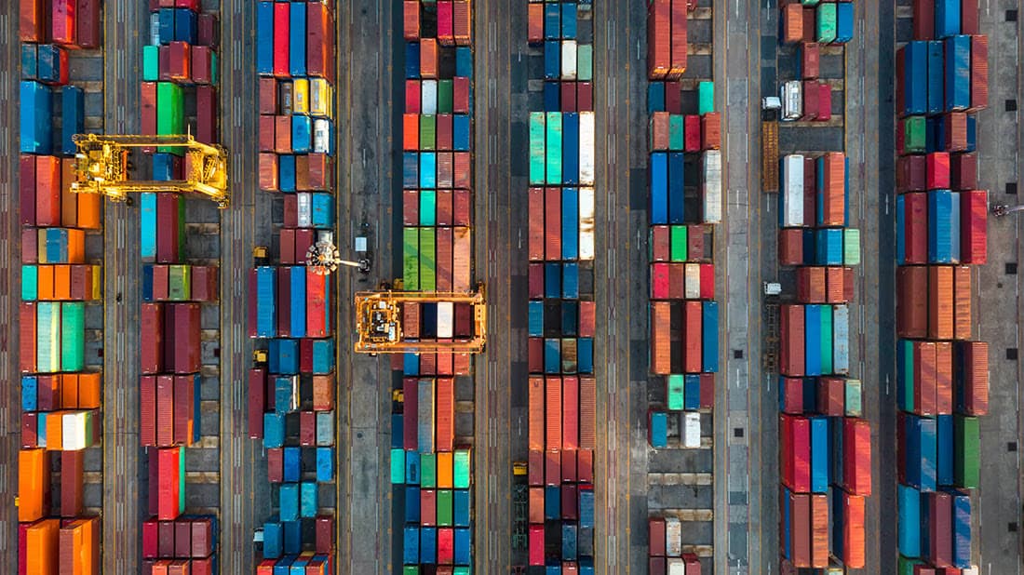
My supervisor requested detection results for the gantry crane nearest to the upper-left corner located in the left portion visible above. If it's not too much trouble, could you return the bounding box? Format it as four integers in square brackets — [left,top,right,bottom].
[70,132,230,206]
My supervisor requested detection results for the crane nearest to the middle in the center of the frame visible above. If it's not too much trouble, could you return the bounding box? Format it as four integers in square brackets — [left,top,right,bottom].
[355,288,485,354]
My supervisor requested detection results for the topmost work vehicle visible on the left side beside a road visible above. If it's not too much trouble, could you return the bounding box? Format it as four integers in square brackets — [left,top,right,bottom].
[251,243,269,267]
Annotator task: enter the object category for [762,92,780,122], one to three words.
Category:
work vehicle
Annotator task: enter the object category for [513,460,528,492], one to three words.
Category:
work vehicle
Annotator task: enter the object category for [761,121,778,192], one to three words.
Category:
trailer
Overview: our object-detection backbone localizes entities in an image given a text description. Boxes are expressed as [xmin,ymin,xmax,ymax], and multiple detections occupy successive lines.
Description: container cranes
[355,288,485,354]
[70,132,230,206]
